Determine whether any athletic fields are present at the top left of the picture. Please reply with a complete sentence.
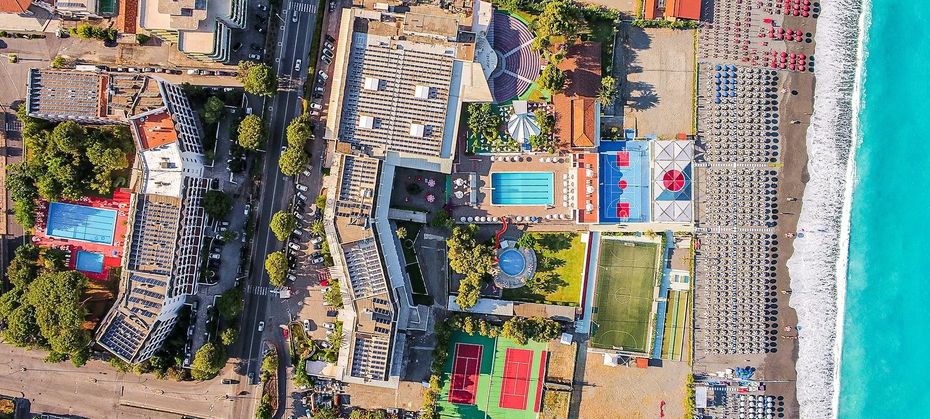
No, at the top left of the picture there is no athletic field.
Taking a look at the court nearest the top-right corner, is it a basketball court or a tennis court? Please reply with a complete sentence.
It looks like the court nearest the top-right corner is a basketball court.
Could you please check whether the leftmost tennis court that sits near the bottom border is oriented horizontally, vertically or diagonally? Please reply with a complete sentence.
From this overhead view, the leftmost tennis court that sits near the bottom border appears to run vertically.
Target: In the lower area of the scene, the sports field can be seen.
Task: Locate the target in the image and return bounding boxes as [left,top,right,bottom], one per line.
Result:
[589,234,665,356]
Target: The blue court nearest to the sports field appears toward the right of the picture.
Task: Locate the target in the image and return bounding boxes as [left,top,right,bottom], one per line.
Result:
[599,141,650,223]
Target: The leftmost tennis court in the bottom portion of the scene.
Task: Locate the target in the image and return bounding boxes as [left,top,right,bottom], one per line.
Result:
[449,343,483,404]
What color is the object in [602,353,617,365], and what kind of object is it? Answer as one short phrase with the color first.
white gazebo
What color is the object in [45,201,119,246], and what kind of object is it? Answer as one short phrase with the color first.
blue swimming pool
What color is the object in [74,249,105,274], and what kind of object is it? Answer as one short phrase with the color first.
blue swimming pool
